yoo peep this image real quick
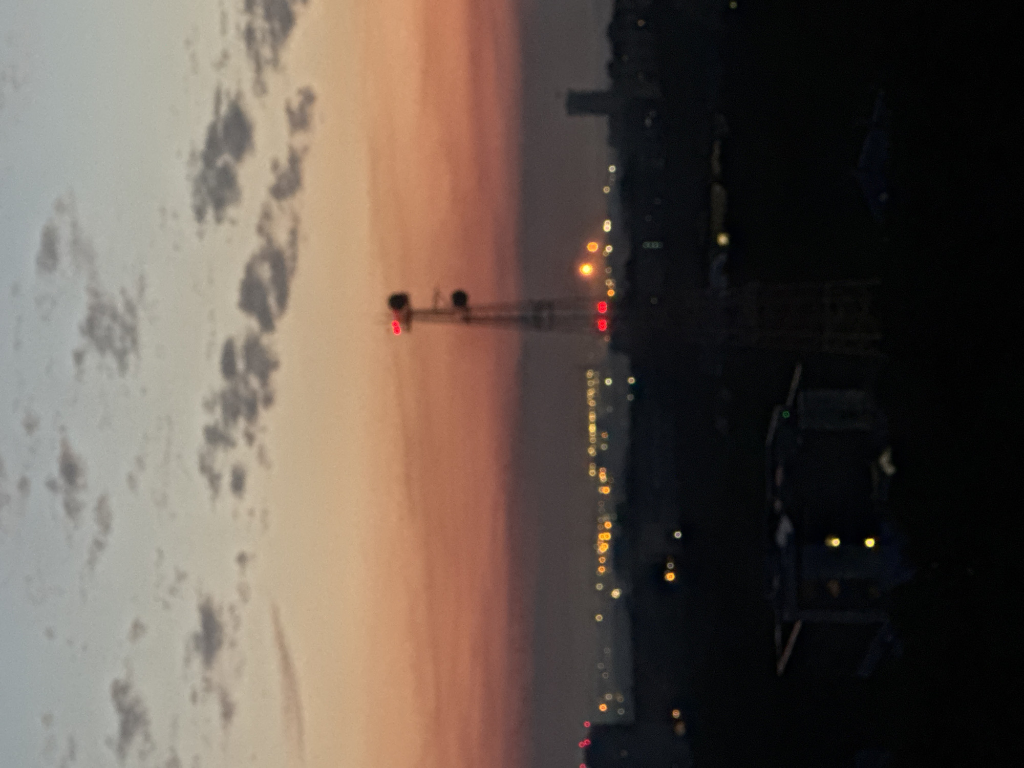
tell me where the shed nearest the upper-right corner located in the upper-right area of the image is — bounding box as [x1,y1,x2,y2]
[854,92,905,229]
